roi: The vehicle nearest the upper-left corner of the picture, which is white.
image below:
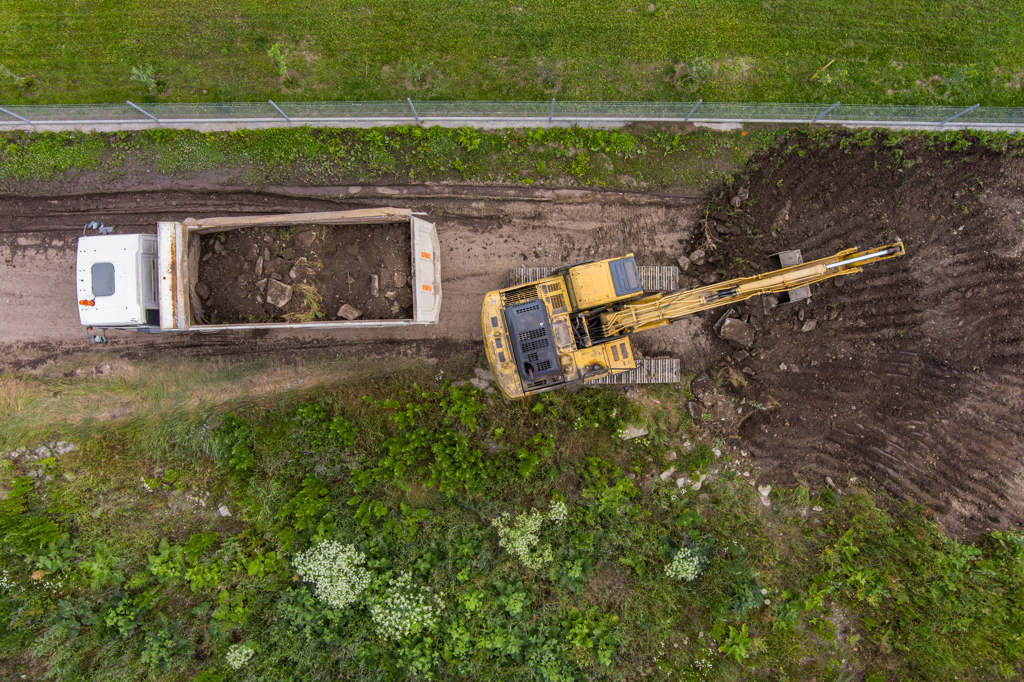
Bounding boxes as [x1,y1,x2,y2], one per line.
[78,207,443,343]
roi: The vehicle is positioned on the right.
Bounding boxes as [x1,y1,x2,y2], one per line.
[481,242,904,400]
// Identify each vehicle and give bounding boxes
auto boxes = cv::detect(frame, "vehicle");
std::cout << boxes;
[481,242,904,400]
[78,207,443,343]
